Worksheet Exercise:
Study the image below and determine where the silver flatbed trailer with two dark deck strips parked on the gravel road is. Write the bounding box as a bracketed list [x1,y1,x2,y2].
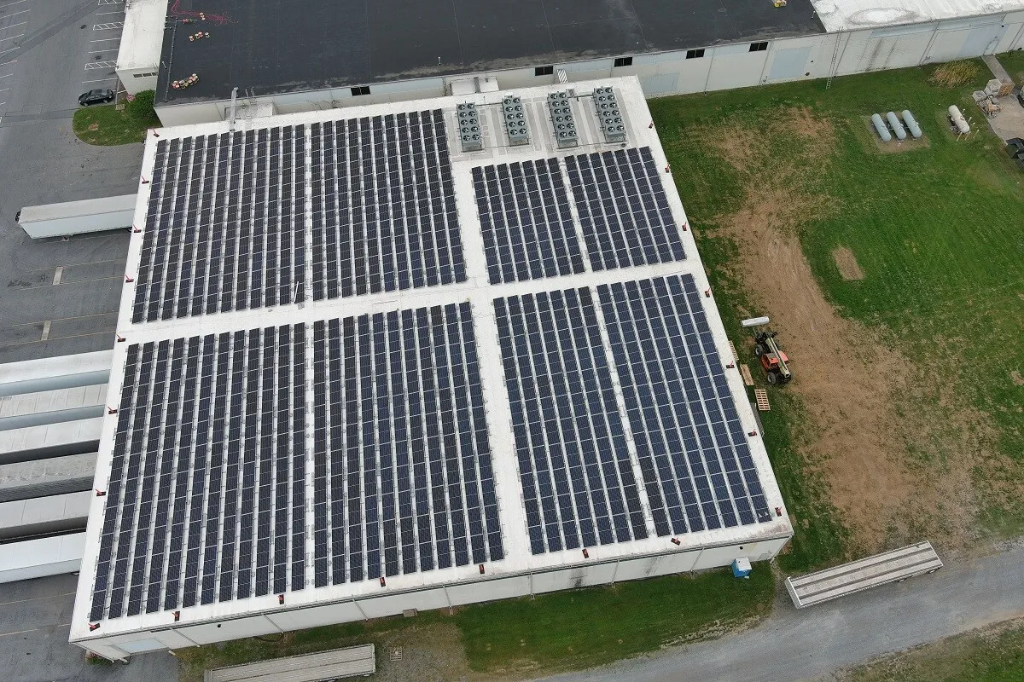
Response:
[785,541,945,611]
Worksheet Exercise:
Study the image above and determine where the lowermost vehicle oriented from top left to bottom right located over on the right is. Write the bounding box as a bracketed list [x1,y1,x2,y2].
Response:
[749,328,798,385]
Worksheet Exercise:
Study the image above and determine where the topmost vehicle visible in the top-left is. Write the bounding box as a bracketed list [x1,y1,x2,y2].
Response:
[77,84,114,103]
